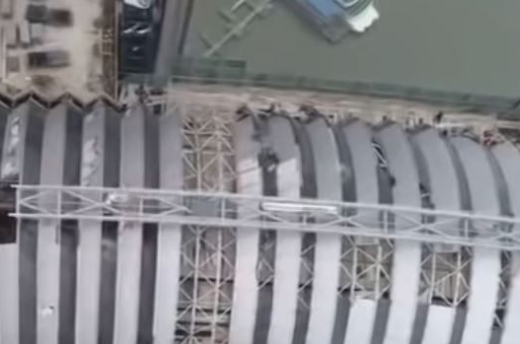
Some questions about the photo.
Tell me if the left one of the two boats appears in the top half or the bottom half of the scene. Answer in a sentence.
The left one of the two boats is in the top half of the image.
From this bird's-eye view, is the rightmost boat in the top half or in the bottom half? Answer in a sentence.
The rightmost boat sits in the top half of the picture.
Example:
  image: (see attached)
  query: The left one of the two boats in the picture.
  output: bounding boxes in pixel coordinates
[276,0,348,46]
